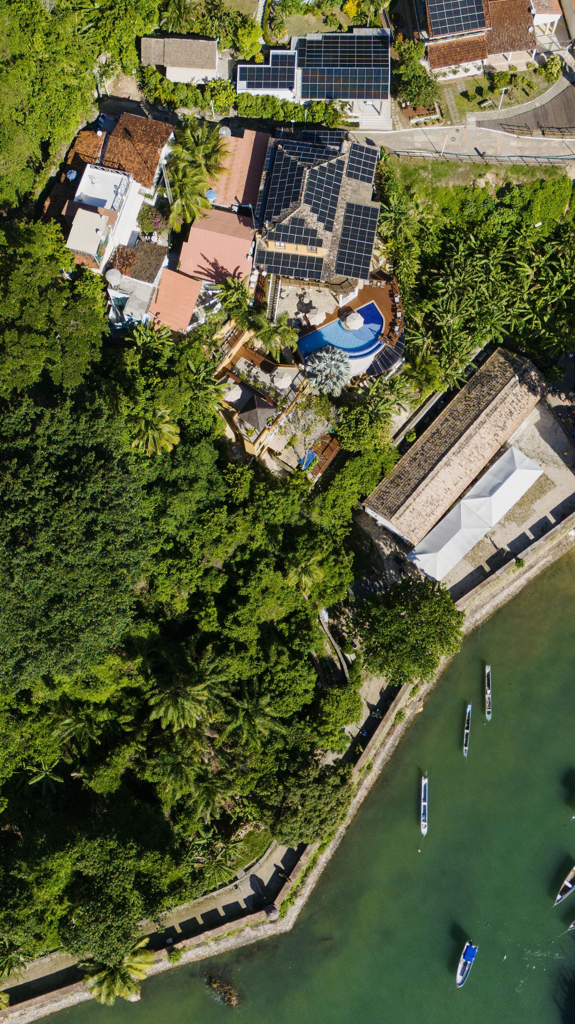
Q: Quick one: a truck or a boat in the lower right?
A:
boat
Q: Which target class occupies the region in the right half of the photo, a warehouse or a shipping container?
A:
warehouse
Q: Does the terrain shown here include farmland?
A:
No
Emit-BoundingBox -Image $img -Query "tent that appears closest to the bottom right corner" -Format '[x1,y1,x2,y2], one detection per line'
[405,446,543,578]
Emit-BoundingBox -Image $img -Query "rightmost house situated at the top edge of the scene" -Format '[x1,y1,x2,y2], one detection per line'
[420,0,575,79]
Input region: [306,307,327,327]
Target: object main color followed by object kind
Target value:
white umbrella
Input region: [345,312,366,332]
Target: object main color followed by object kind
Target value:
white umbrella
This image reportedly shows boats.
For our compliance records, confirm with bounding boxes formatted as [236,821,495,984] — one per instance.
[486,666,492,721]
[454,940,480,988]
[567,916,575,931]
[554,857,575,906]
[464,705,472,757]
[421,770,428,836]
